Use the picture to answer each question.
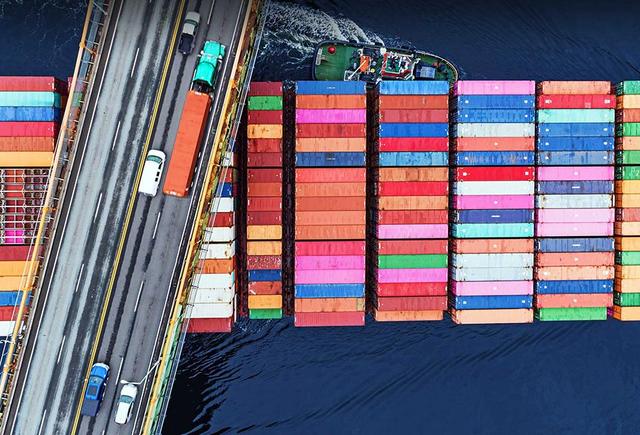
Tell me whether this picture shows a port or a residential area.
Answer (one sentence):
The area seen from above is a port.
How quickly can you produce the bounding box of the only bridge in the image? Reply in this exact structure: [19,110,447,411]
[0,0,271,435]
